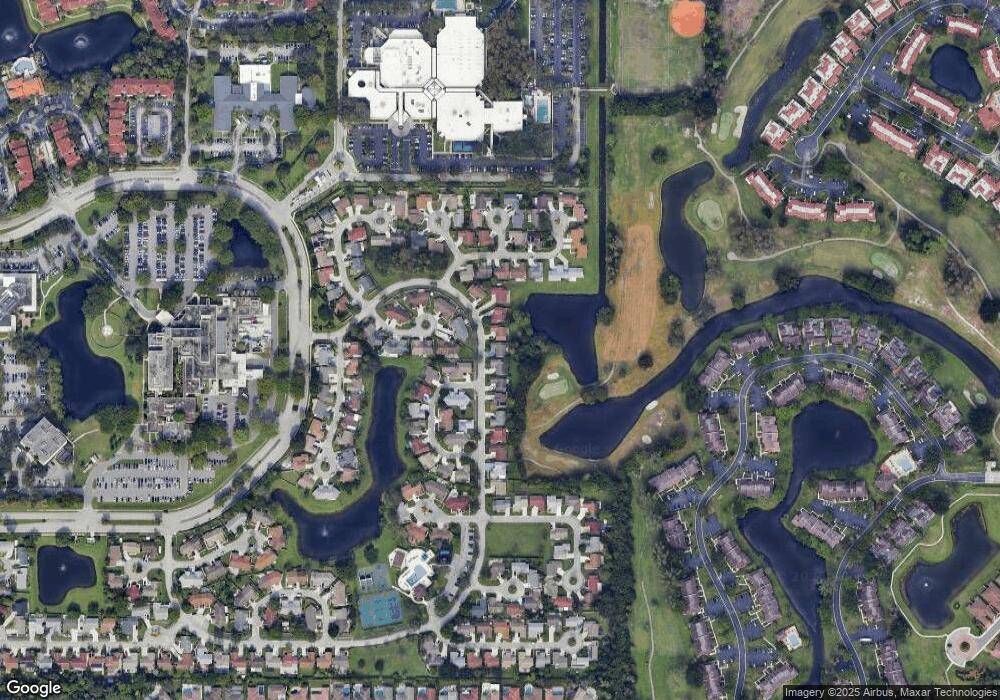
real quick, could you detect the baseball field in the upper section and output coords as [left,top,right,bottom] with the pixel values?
[668,0,704,89]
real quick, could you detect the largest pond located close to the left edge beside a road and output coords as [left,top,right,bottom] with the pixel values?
[38,545,97,605]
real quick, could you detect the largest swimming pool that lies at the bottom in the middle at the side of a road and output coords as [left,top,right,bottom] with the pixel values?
[389,548,438,590]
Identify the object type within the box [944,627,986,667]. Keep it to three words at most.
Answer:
roundabout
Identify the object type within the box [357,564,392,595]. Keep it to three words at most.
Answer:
sports court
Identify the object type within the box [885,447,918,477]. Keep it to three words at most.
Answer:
swimming pool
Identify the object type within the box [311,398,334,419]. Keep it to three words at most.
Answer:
house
